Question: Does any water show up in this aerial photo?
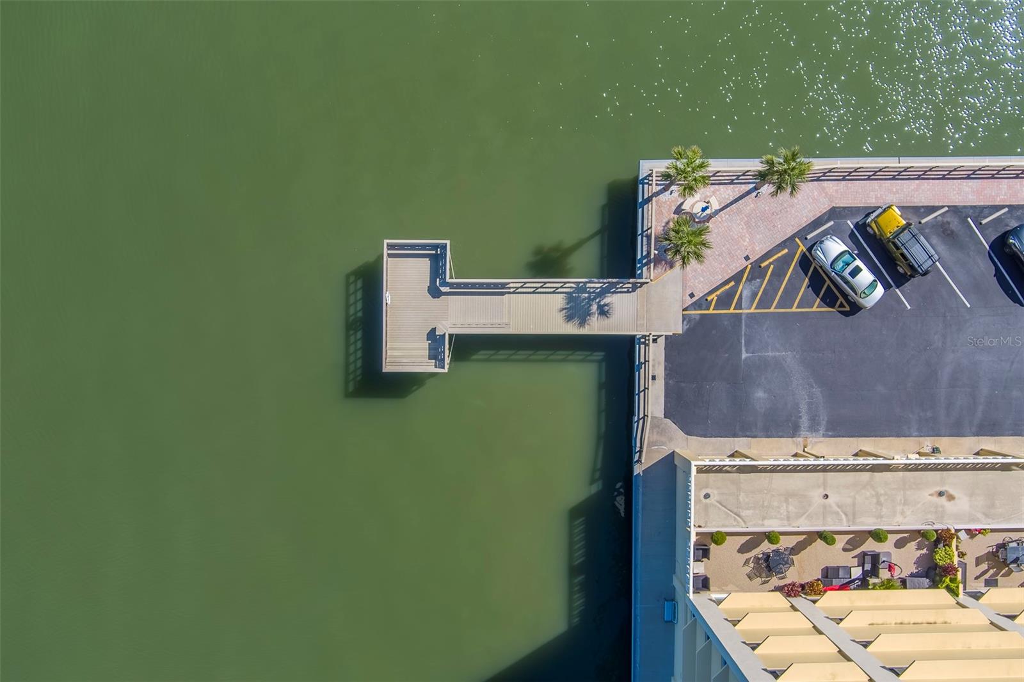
Yes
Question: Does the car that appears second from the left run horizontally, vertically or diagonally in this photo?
diagonally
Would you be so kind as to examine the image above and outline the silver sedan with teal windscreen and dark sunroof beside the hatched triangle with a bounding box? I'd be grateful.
[809,234,885,311]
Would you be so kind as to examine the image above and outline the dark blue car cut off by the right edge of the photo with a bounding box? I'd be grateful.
[1000,221,1024,273]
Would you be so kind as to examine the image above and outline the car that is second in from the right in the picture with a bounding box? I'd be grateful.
[862,199,939,280]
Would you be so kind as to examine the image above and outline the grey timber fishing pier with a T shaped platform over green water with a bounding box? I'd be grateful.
[384,240,673,372]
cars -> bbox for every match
[862,199,939,280]
[809,234,885,311]
[1000,221,1024,273]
